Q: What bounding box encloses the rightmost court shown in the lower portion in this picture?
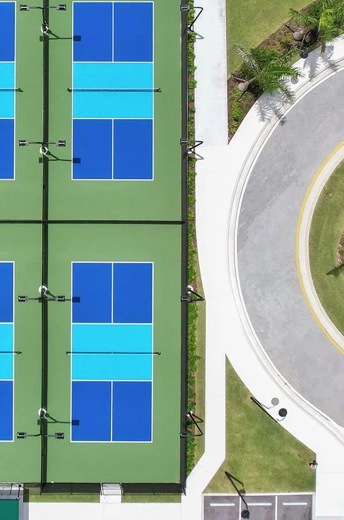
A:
[42,222,181,482]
